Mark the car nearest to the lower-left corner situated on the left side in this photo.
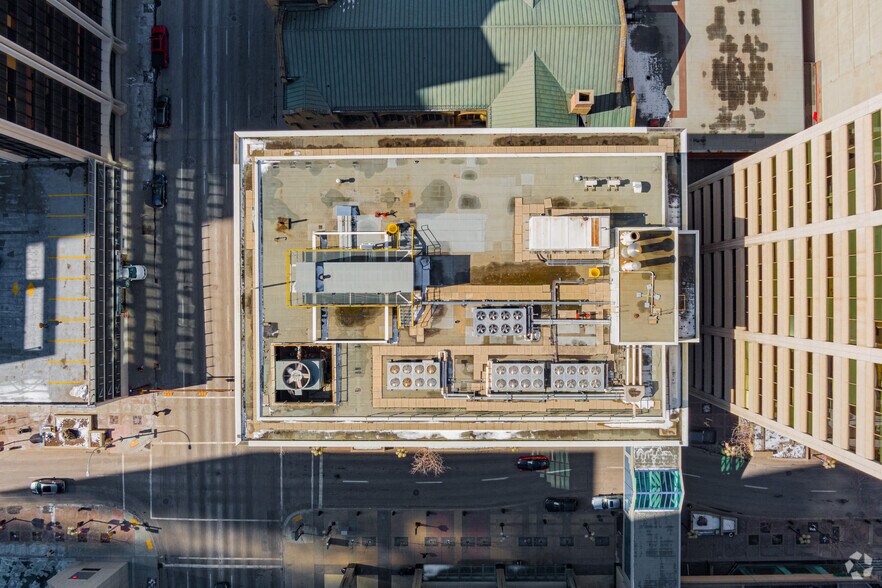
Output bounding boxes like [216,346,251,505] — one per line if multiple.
[29,480,65,497]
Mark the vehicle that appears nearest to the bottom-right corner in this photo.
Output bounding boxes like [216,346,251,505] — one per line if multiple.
[688,430,722,447]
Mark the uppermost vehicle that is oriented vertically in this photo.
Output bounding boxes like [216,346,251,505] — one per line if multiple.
[149,25,167,66]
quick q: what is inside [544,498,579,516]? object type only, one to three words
car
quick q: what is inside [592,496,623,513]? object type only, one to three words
car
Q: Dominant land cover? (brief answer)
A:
buildings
